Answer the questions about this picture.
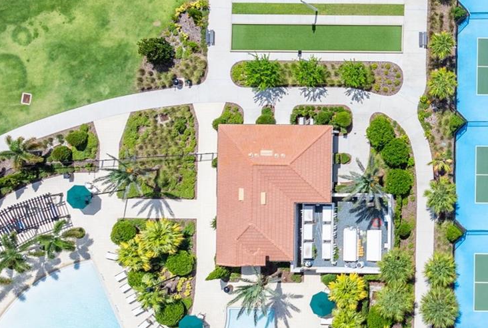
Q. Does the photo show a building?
Yes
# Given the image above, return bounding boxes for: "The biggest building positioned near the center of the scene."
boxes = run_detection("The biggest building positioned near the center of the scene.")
[218,124,333,267]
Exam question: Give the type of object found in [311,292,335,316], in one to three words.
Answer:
umbrella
